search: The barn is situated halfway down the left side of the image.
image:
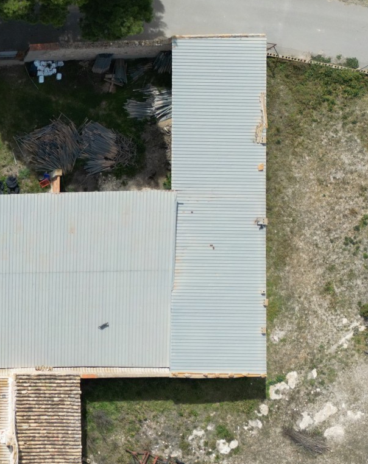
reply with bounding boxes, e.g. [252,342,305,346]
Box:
[0,191,177,368]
